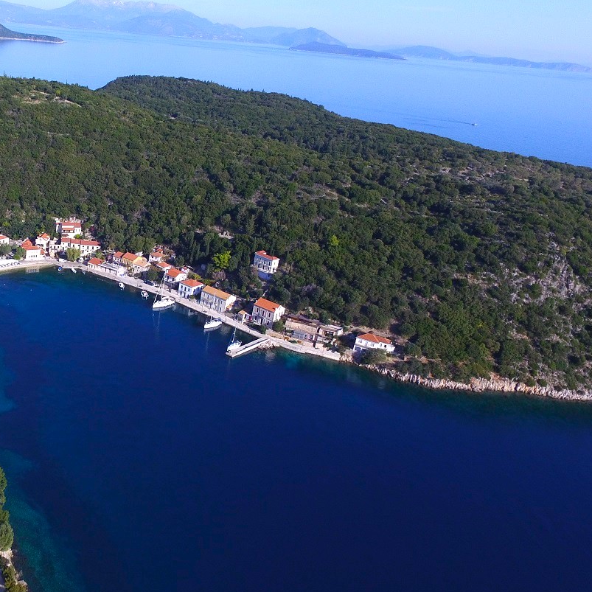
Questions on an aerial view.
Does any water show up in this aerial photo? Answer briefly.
Yes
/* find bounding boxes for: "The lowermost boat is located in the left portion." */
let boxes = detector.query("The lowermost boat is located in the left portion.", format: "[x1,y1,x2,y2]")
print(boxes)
[227,311,244,352]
